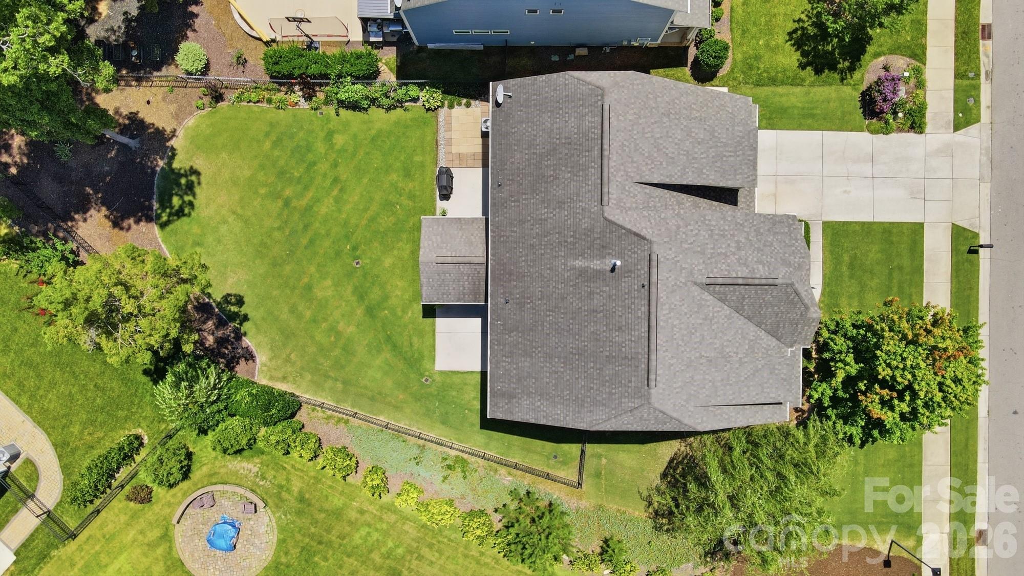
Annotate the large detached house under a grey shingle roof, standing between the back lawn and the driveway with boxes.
[420,69,822,432]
